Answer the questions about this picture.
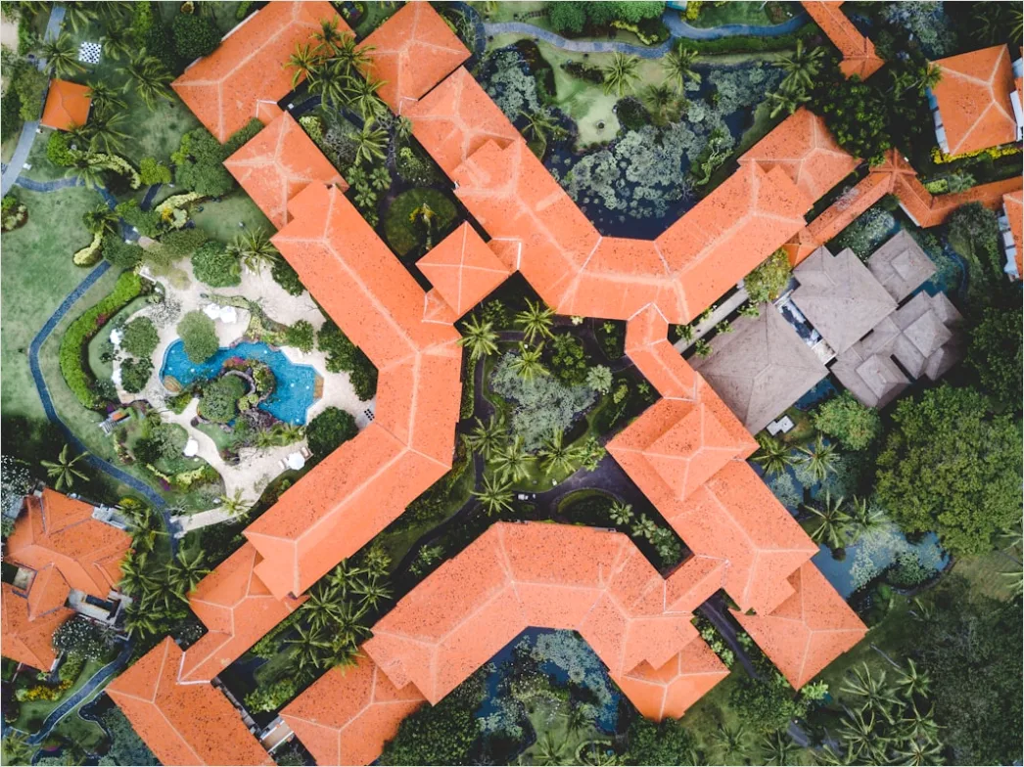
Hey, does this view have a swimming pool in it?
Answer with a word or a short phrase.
Yes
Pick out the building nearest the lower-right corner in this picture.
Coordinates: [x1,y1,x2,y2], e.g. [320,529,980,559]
[728,560,868,690]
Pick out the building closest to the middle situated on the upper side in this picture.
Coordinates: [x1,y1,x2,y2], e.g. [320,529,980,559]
[416,220,509,316]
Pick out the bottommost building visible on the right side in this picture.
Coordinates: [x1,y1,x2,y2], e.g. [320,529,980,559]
[622,640,729,722]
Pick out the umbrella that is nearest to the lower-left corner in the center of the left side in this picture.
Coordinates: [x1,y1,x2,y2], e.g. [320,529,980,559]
[185,439,201,455]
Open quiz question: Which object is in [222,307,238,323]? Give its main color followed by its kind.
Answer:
white umbrella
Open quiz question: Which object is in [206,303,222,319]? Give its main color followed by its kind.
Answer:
white umbrella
